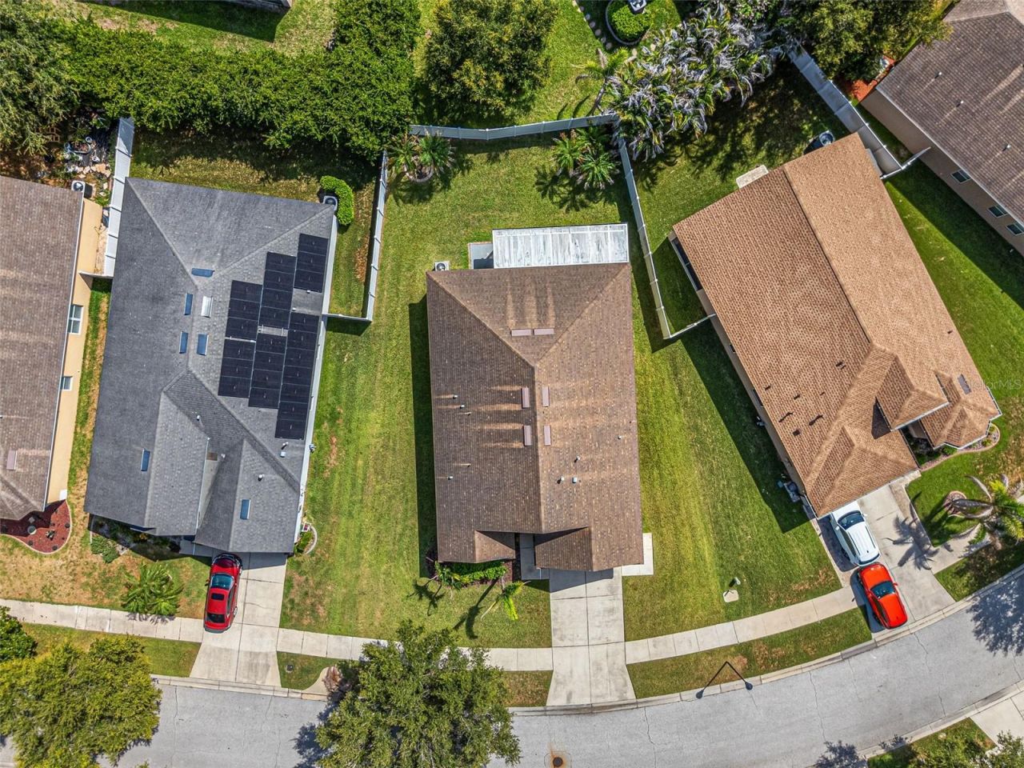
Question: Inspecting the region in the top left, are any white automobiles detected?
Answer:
No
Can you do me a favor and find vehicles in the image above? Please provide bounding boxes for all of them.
[830,499,884,566]
[203,551,243,633]
[858,561,911,632]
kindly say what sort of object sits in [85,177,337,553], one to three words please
house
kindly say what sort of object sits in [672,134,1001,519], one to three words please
house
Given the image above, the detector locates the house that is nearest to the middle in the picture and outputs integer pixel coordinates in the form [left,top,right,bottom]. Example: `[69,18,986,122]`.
[425,262,642,571]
